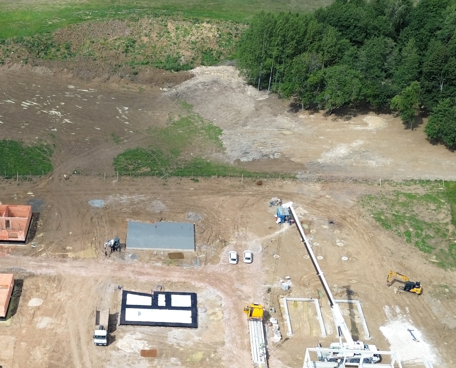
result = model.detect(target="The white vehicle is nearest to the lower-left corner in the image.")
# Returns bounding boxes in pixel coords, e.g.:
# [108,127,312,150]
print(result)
[92,311,109,344]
